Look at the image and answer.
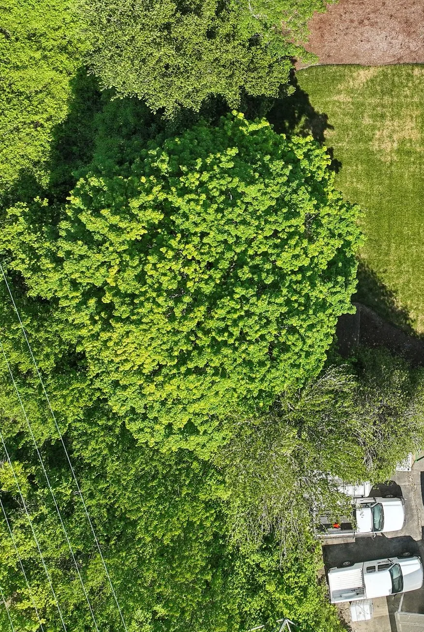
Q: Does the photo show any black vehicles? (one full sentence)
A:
No, no black vehicle is visible in the scene.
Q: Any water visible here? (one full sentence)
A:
No, no water is visible.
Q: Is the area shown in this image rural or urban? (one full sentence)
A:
The land in this view is best described as rural.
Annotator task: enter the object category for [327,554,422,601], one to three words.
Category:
truck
